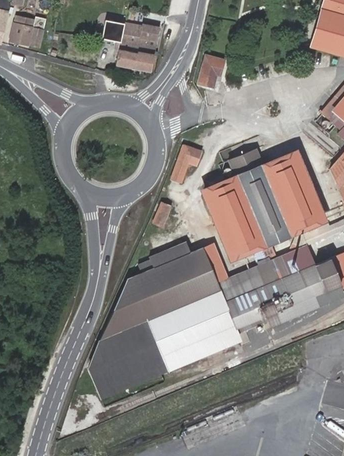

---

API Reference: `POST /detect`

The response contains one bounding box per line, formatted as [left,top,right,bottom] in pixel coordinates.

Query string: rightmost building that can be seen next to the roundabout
[203,150,328,262]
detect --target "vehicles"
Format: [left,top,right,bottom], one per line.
[166,28,172,39]
[316,414,344,437]
[10,55,25,64]
[86,312,93,323]
[105,256,110,266]
[316,54,322,65]
[102,48,108,60]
